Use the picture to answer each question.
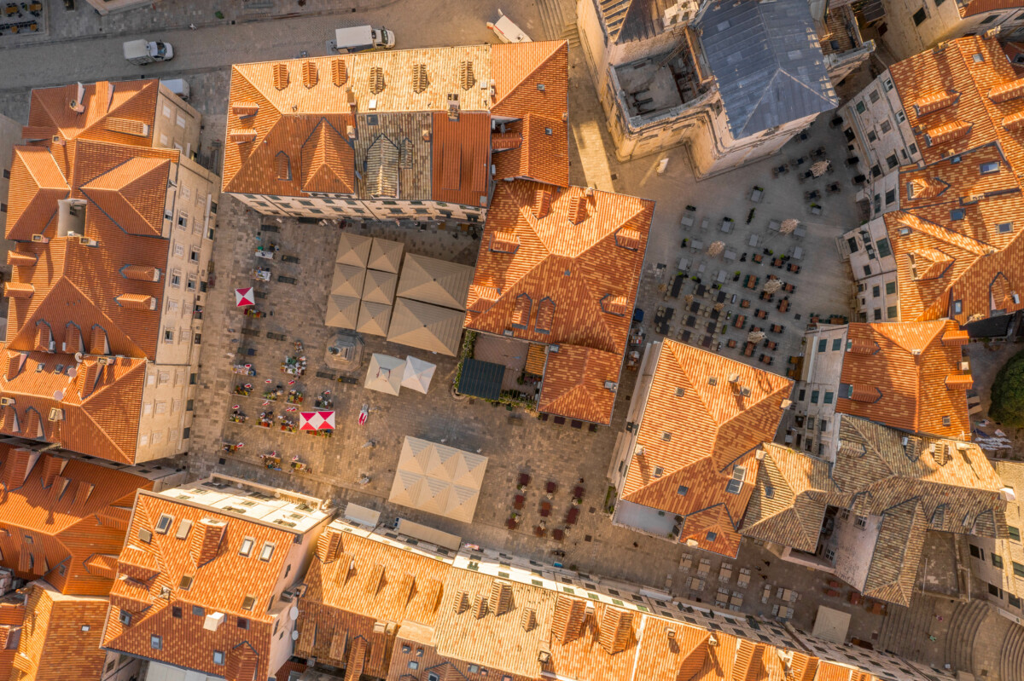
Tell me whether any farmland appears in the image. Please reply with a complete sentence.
No, no farmland is visible.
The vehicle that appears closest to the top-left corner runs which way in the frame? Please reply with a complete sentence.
Seen from above, the vehicle that appears closest to the top-left corner lies from side to side.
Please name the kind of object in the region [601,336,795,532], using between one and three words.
house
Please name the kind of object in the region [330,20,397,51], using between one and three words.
truck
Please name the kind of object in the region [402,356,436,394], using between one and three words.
tent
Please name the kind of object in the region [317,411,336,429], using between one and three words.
umbrella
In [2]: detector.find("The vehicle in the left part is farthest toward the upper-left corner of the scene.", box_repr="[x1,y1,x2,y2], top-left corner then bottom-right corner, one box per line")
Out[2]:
[118,38,176,64]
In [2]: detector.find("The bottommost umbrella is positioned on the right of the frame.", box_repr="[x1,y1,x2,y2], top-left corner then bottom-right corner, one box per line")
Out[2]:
[811,605,851,644]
